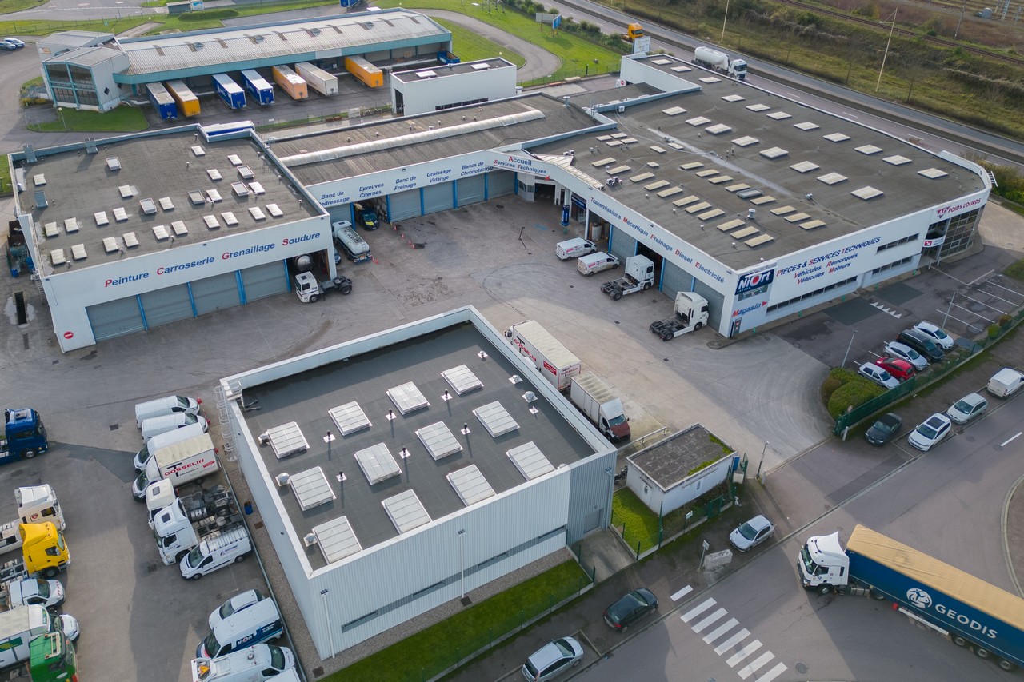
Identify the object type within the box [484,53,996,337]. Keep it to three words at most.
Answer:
building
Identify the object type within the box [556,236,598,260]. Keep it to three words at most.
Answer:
vehicle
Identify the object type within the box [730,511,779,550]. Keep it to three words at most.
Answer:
car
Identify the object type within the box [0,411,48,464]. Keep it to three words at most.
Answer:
truck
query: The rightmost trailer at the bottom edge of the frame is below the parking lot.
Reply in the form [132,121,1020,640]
[846,525,1024,671]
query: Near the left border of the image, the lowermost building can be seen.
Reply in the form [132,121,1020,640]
[7,122,337,351]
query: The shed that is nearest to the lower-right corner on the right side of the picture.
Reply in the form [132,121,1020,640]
[624,425,738,517]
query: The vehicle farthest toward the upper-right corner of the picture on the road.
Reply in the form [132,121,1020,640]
[693,42,754,78]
